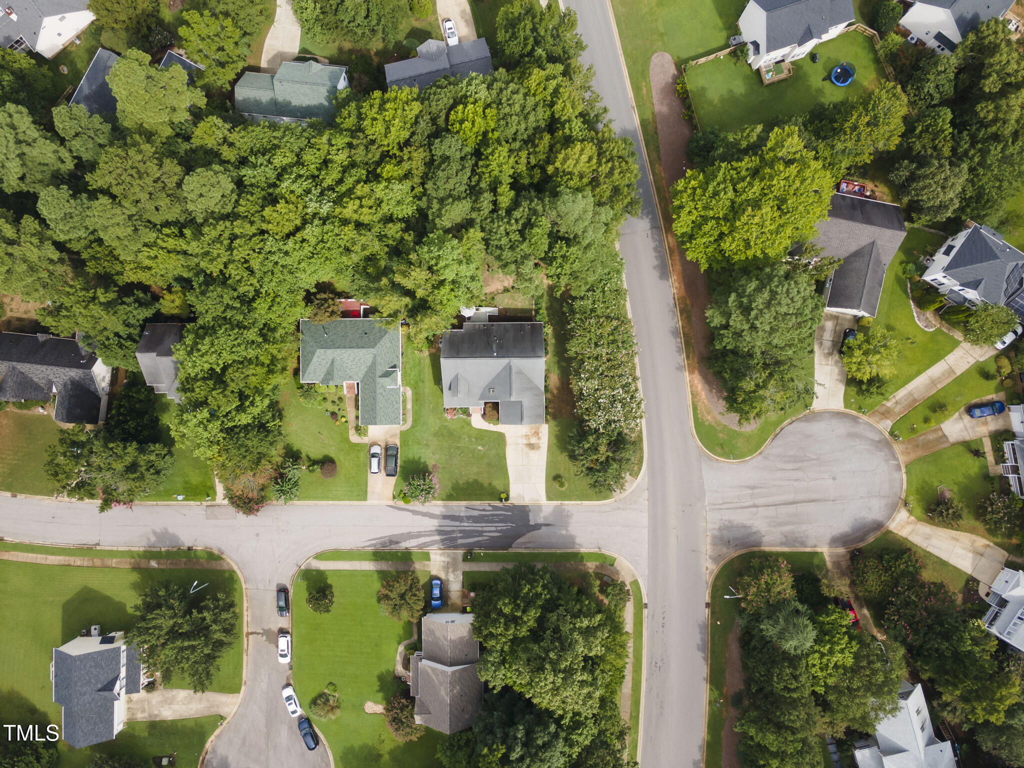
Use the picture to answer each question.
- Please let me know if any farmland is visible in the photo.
No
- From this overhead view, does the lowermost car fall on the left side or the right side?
left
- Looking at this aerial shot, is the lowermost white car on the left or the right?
left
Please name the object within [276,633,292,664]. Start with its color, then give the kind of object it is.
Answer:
white car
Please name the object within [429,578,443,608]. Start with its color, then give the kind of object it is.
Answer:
blue car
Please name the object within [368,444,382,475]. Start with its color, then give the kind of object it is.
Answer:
white car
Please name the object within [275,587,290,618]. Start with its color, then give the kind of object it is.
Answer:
gray car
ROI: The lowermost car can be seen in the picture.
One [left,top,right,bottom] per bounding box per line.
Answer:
[297,717,319,750]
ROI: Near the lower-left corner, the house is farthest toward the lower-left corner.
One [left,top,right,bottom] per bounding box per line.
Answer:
[51,627,151,749]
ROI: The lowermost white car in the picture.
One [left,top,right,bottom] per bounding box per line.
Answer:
[282,685,302,718]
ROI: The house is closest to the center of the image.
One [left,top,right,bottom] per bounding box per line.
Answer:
[440,322,545,425]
